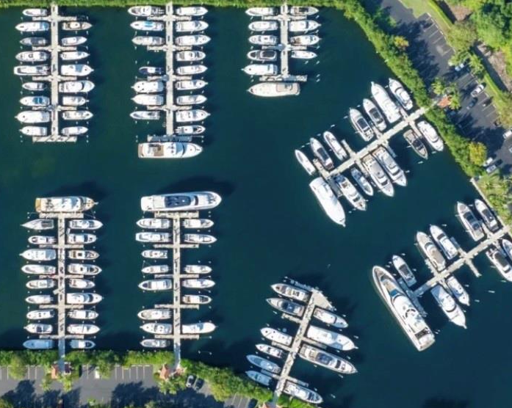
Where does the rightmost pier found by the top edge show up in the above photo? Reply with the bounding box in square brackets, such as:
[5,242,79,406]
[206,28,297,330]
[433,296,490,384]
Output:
[261,0,307,81]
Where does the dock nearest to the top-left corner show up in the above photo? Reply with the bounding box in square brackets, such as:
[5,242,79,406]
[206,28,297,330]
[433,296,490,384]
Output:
[32,4,75,141]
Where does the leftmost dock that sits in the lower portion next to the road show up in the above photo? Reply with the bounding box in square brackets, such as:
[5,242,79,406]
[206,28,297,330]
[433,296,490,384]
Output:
[38,212,83,377]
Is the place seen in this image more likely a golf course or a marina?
marina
